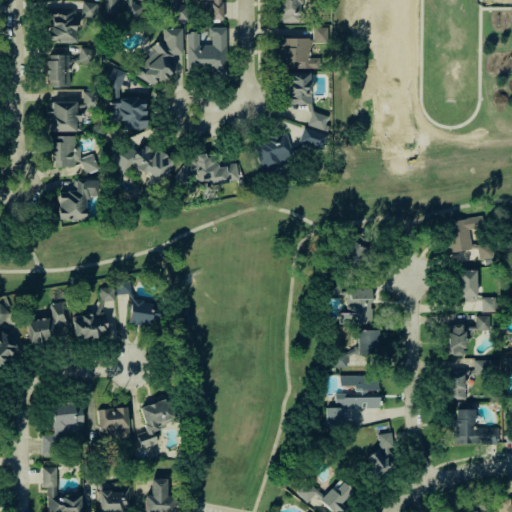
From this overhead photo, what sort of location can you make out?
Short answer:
residential area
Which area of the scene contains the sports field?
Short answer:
top right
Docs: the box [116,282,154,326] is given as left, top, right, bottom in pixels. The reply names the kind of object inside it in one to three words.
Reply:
house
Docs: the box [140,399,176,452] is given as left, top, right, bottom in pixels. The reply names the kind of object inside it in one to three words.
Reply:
house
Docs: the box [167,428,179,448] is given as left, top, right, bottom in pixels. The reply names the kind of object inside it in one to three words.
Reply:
swimming pool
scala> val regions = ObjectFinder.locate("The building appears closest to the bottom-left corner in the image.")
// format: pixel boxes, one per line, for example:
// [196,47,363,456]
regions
[42,468,84,512]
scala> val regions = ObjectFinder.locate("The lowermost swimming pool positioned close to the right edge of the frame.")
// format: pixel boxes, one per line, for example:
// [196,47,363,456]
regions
[479,406,497,426]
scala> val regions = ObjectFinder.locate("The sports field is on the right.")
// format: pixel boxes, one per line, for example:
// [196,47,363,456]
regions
[420,0,482,128]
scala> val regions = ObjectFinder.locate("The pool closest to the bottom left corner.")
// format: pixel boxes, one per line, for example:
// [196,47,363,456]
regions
[58,477,80,492]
